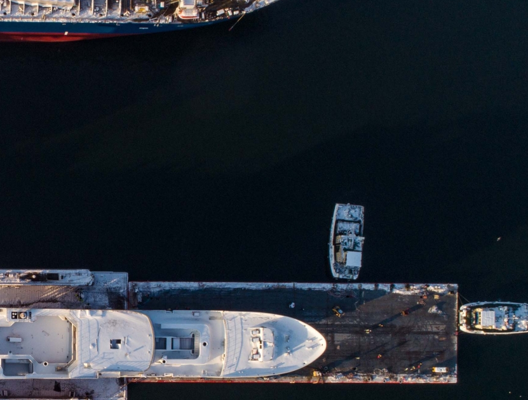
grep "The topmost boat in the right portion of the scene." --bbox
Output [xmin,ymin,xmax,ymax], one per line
[327,204,366,279]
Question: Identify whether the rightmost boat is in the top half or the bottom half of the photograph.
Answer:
bottom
